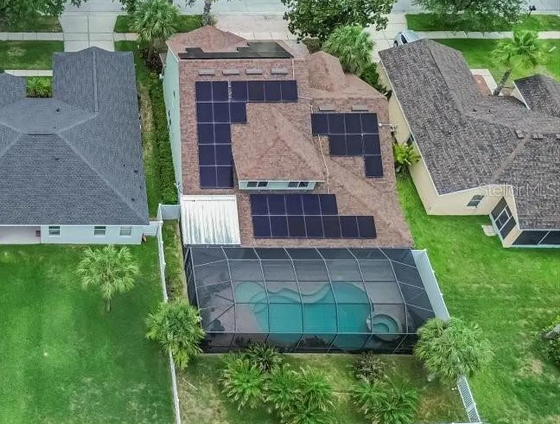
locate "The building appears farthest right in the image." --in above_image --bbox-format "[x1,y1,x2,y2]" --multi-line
[378,38,560,248]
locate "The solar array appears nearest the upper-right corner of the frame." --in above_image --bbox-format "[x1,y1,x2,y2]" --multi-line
[312,112,388,177]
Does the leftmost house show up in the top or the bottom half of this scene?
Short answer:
top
